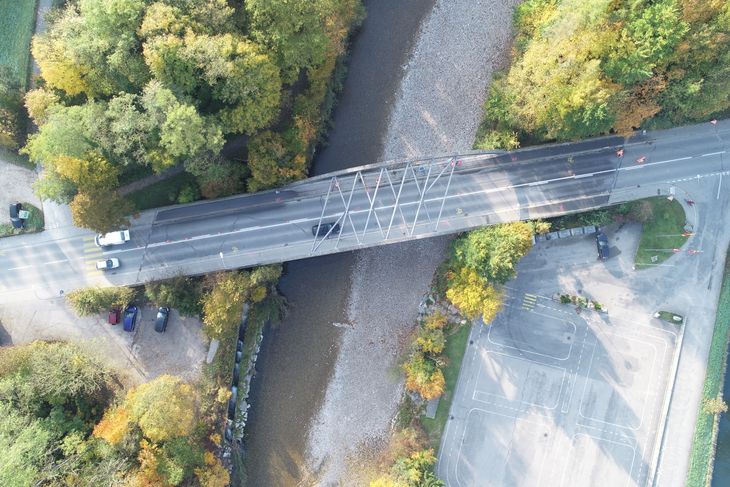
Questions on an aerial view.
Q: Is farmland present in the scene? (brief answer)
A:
No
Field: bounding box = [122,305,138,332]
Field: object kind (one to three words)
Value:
car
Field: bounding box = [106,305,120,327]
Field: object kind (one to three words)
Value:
vehicle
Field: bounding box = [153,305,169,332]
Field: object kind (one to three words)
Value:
car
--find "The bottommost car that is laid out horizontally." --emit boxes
[95,258,120,270]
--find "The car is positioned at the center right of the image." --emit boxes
[595,233,610,261]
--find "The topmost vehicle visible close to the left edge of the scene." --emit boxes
[9,201,26,227]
